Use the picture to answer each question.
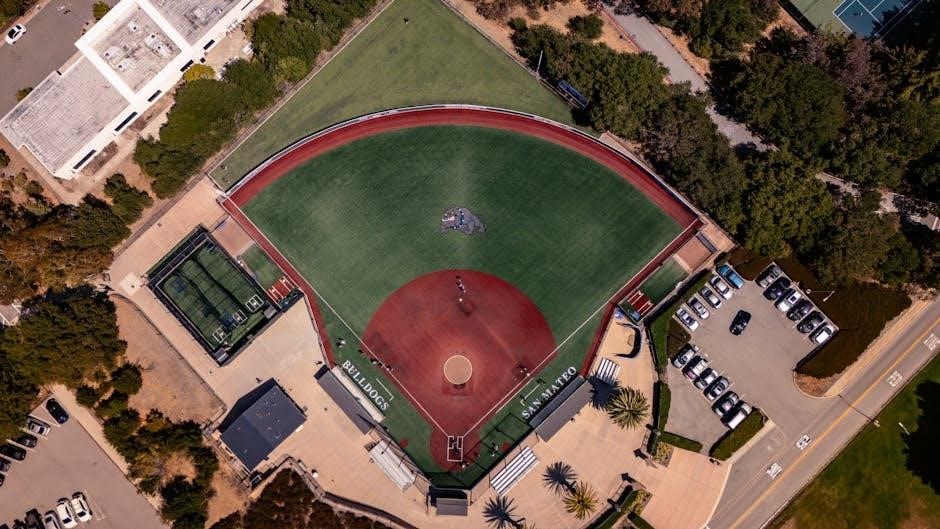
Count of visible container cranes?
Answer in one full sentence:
The count of container cranes is 0.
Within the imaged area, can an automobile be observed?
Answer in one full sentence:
Yes, the picture does show an automobile.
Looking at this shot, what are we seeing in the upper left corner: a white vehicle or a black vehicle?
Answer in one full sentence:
It is a white vehicle that can be seen in the upper left corner.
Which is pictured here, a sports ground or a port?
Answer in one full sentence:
This looks like a sports ground.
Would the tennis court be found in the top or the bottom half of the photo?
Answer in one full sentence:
You can find the tennis court in the top half.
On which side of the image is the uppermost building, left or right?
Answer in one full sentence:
You can find the uppermost building on the left side of the picture.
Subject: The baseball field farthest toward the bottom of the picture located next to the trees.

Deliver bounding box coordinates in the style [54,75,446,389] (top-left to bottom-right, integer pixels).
[222,107,705,487]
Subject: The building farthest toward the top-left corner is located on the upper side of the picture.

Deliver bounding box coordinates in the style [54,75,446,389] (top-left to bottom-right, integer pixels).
[0,0,263,179]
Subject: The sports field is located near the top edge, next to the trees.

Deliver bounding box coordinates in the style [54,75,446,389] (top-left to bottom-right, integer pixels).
[212,0,612,198]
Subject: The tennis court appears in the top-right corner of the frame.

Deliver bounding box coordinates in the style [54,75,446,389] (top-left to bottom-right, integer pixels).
[778,0,940,129]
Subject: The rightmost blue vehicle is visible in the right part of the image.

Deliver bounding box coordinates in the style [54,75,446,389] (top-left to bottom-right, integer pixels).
[718,264,746,291]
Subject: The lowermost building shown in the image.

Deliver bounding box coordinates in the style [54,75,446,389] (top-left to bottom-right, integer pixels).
[430,491,467,516]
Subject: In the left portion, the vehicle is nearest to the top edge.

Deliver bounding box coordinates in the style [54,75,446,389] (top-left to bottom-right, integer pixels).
[5,22,29,46]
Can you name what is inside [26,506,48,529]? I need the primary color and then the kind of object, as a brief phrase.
black truck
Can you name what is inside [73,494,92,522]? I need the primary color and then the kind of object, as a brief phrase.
white car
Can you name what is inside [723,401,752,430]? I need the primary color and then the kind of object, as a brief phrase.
white truck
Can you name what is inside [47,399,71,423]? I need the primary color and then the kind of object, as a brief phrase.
black car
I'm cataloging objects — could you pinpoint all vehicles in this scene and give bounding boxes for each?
[693,366,717,391]
[5,22,29,46]
[671,343,696,369]
[753,264,783,289]
[763,277,789,299]
[774,288,801,310]
[713,390,738,416]
[57,500,78,528]
[723,401,752,430]
[26,506,48,529]
[44,510,63,529]
[718,264,746,291]
[686,296,711,320]
[0,442,28,462]
[0,454,17,474]
[698,286,723,310]
[47,399,71,423]
[675,308,699,332]
[73,494,92,522]
[808,321,835,344]
[786,298,812,321]
[681,353,710,382]
[795,308,826,333]
[705,377,729,400]
[25,417,54,437]
[12,431,39,450]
